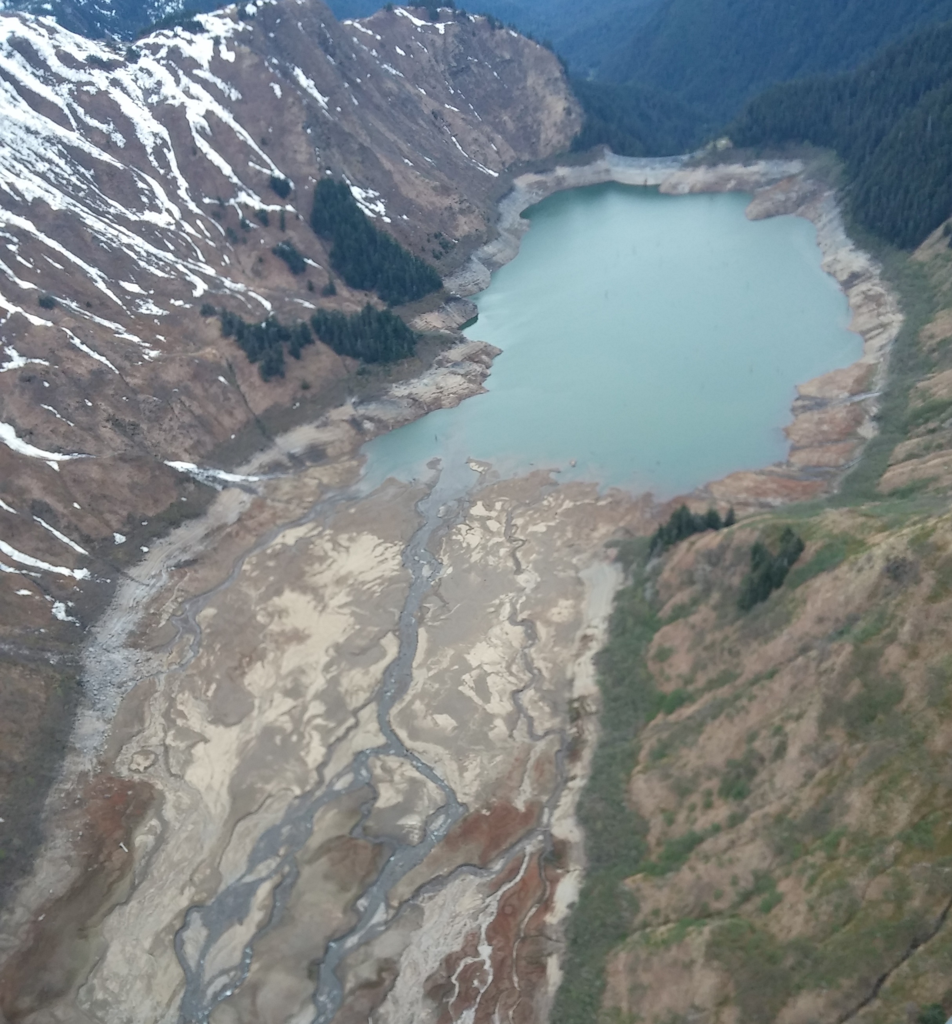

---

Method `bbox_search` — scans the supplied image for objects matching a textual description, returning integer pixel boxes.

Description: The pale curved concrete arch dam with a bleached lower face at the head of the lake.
[602,146,709,185]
